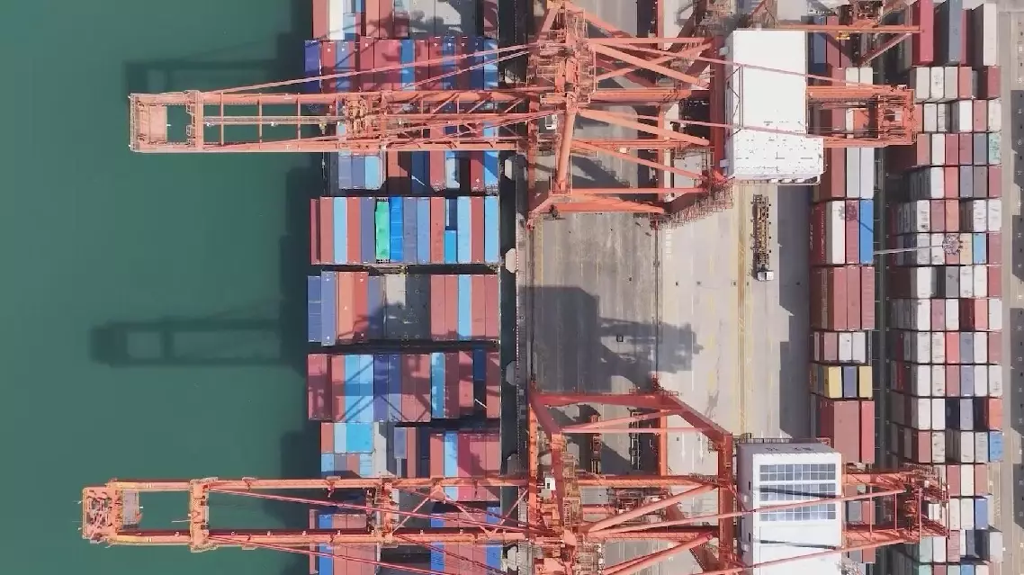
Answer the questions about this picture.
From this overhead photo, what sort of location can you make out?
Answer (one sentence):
The area seen from above is a port.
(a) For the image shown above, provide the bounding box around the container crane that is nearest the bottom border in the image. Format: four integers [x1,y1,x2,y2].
[77,374,952,575]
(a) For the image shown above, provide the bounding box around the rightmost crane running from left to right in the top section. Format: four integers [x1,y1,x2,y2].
[747,0,929,65]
